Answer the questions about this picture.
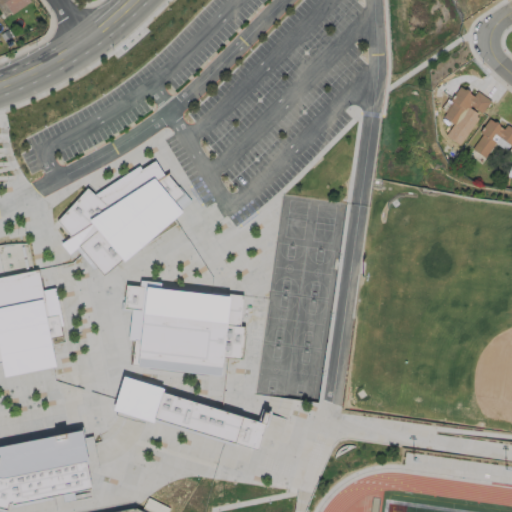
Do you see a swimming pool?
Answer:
No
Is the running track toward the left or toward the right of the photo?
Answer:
right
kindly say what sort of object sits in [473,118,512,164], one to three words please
house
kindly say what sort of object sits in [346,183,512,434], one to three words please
sports field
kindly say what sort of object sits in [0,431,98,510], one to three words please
building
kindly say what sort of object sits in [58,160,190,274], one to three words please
building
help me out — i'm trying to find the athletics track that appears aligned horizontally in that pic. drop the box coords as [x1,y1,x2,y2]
[323,473,512,512]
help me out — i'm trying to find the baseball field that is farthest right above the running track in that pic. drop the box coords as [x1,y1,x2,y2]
[474,327,512,423]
